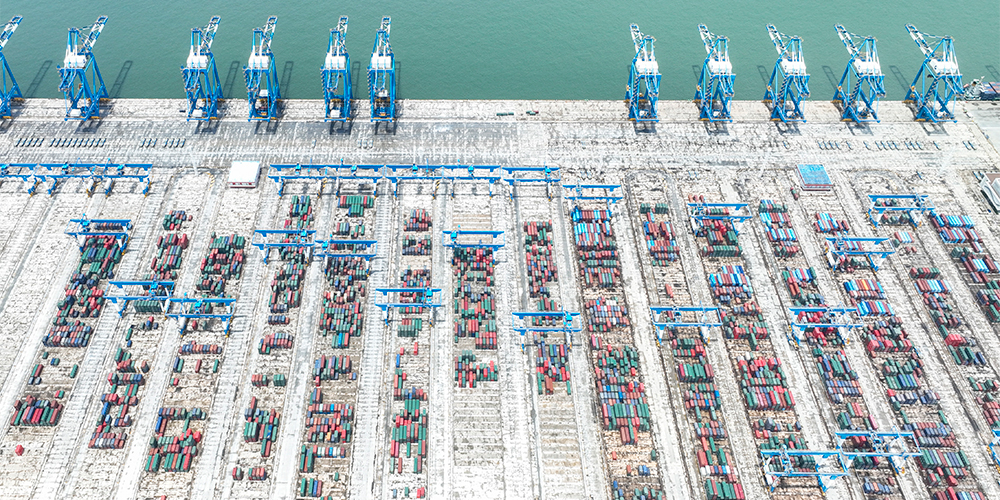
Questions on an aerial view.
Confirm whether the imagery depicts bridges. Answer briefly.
No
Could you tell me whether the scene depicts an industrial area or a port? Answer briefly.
port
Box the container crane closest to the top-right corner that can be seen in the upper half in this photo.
[902,25,967,121]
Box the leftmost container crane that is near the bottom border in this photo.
[760,445,846,497]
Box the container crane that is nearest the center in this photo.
[442,225,504,267]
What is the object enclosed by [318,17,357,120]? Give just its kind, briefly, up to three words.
container crane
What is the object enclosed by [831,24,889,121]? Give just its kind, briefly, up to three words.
container crane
